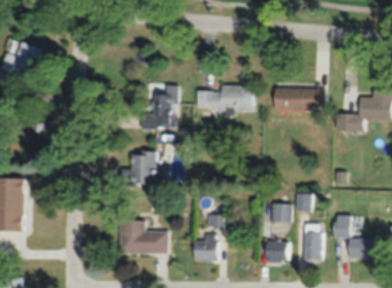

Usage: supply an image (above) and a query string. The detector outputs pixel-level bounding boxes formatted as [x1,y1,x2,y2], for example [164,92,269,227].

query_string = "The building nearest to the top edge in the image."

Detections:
[5,40,42,72]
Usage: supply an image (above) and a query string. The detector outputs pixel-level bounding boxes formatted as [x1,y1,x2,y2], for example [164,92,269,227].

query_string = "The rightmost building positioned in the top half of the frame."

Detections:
[335,92,392,132]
